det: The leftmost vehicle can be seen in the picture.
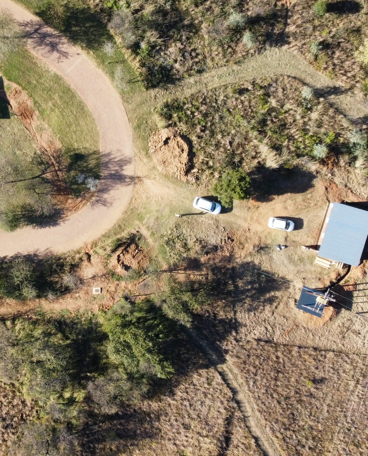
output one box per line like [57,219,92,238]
[193,195,221,215]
